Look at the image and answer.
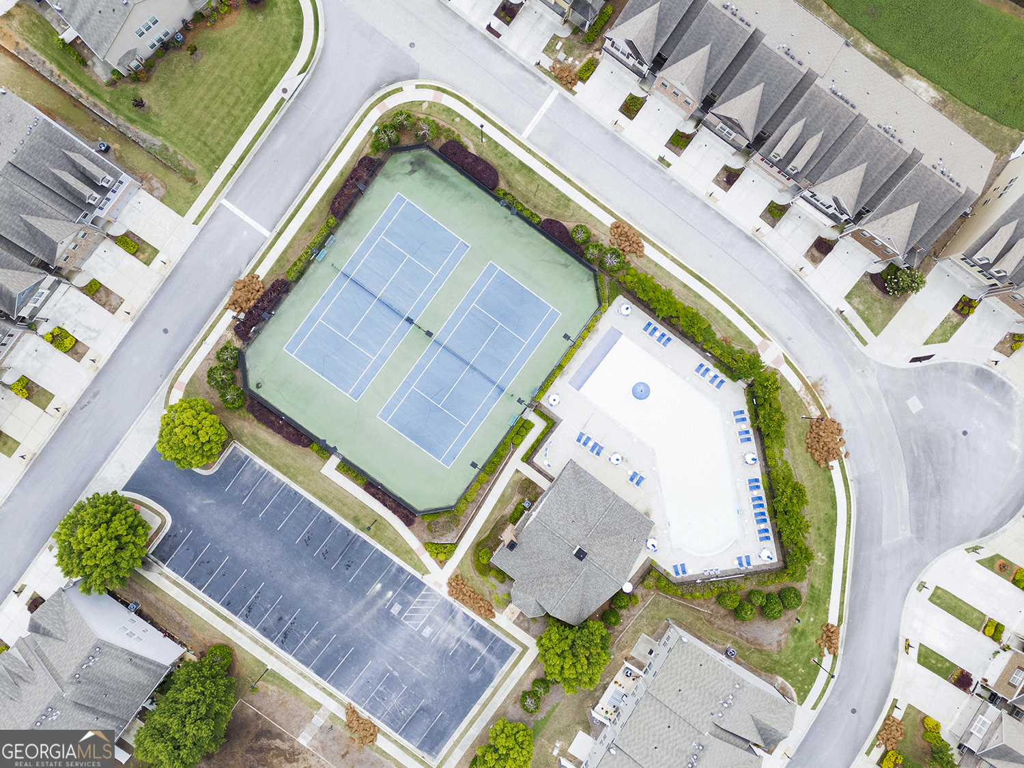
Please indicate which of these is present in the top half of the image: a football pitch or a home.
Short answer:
home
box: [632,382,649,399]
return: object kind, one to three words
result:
fountain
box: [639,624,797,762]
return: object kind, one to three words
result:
house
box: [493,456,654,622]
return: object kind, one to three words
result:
building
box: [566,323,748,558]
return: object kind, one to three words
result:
swimming pool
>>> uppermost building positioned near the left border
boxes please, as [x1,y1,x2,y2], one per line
[47,0,217,76]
